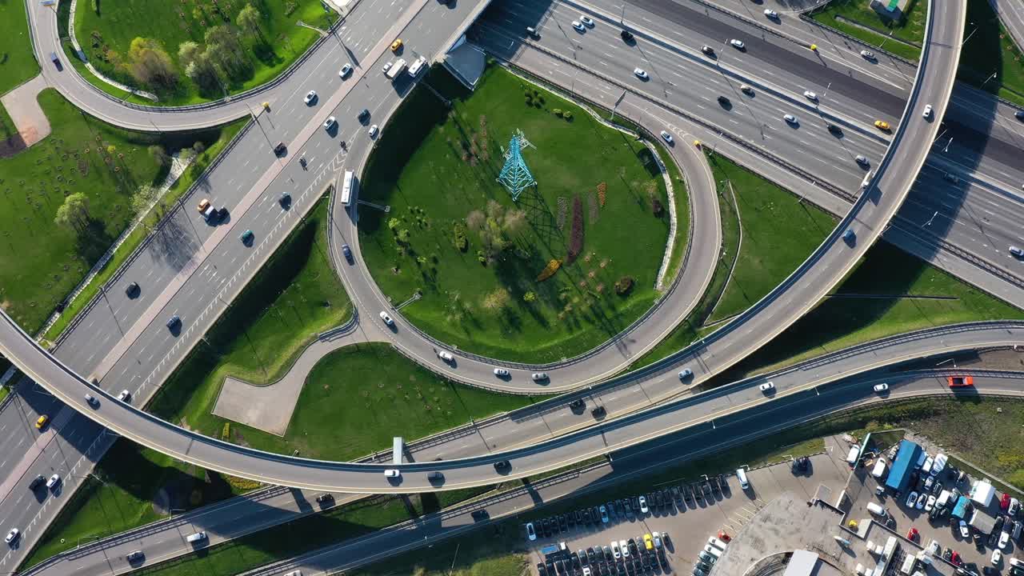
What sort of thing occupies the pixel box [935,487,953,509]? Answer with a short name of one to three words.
vehicle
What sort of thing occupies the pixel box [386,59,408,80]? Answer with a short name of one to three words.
truck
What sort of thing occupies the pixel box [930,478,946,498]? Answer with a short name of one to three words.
car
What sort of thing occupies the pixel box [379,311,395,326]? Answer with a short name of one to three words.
car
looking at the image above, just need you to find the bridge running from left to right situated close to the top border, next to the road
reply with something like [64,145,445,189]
[407,0,484,37]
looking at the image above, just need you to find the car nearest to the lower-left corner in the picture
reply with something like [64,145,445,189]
[2,526,22,547]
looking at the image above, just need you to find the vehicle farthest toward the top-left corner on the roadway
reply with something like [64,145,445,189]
[50,55,63,69]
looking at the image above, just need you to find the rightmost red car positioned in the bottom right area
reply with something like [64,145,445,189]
[999,491,1012,511]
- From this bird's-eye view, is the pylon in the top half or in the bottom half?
top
